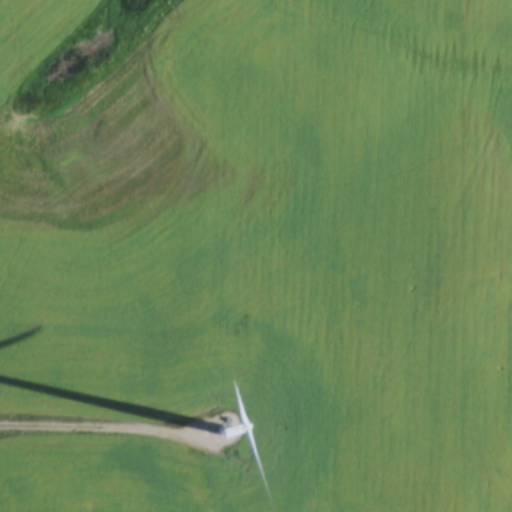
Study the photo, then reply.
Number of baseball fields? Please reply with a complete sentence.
No baseball fields are visible.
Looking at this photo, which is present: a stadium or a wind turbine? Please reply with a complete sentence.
This aerial view contains a wind turbine.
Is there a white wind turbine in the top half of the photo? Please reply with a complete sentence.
No, the scene shows no white wind turbine in the top half of the photo.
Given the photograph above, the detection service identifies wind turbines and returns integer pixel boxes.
[224,376,268,501]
